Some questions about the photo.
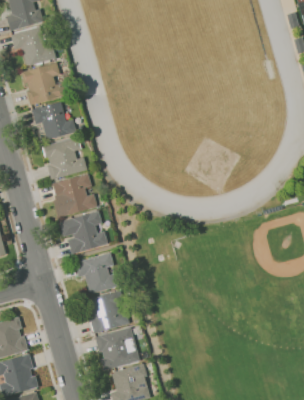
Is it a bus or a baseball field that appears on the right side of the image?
baseball field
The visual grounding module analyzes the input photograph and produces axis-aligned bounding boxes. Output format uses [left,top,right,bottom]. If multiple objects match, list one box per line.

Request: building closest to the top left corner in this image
[6,0,44,32]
